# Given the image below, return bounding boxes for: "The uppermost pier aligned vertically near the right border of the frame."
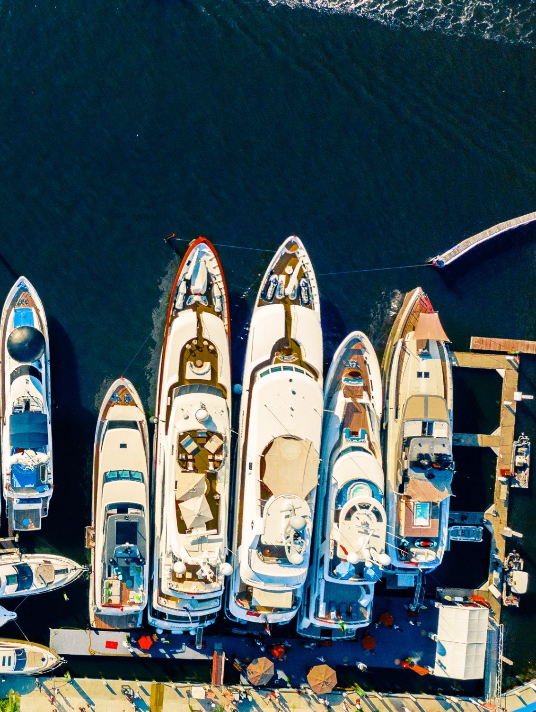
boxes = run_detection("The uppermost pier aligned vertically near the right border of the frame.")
[447,352,519,624]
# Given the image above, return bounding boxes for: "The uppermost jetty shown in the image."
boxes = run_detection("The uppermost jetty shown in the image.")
[469,335,536,355]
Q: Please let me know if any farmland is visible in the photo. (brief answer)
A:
No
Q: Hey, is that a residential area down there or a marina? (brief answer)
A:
marina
